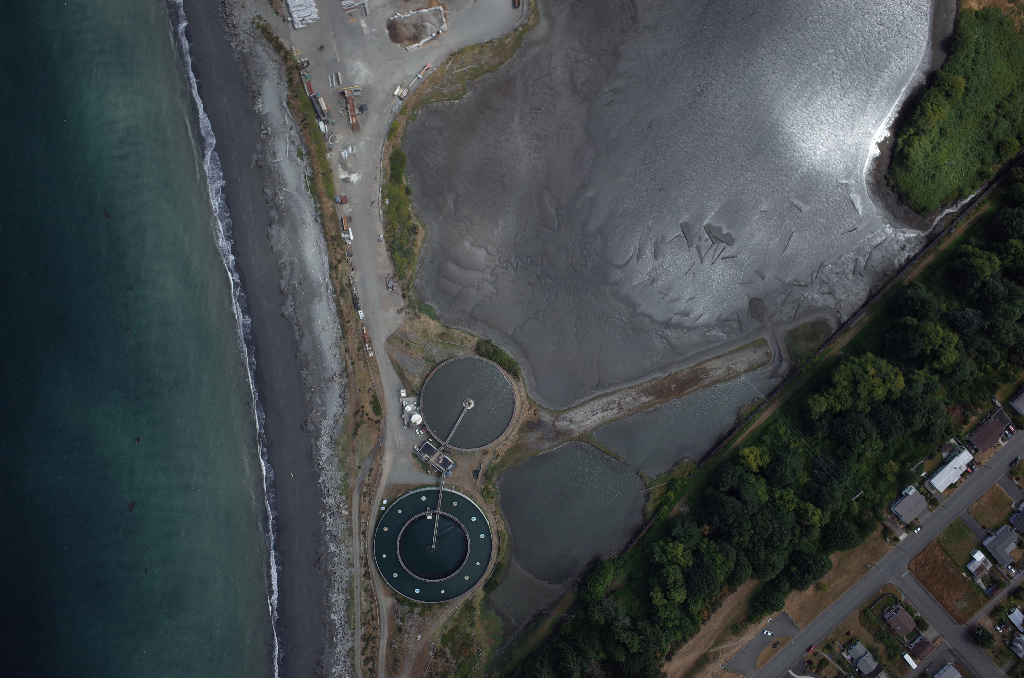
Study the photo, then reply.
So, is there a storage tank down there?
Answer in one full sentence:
Yes, the image includes a storage tank.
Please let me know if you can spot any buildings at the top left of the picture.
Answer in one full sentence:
No, no building appears at the top left of the picture.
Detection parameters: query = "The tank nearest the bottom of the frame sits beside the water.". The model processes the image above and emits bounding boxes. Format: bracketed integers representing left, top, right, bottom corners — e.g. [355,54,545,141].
[375,471,492,604]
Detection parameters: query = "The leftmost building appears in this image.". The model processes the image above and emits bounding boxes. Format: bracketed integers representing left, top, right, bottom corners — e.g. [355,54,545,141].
[417,440,457,473]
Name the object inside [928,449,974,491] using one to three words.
house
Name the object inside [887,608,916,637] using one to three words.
house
